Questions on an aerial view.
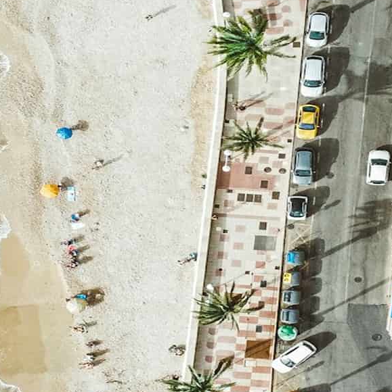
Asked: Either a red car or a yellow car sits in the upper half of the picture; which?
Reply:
yellow car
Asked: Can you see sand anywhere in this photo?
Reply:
Yes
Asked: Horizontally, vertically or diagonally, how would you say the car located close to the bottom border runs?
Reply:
diagonally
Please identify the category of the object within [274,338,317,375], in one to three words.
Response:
car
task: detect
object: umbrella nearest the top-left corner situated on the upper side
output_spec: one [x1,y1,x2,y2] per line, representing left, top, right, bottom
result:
[56,127,71,140]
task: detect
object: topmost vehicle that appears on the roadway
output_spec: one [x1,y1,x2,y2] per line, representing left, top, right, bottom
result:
[305,10,330,49]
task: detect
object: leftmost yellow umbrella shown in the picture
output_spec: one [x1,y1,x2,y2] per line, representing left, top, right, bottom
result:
[41,183,58,197]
